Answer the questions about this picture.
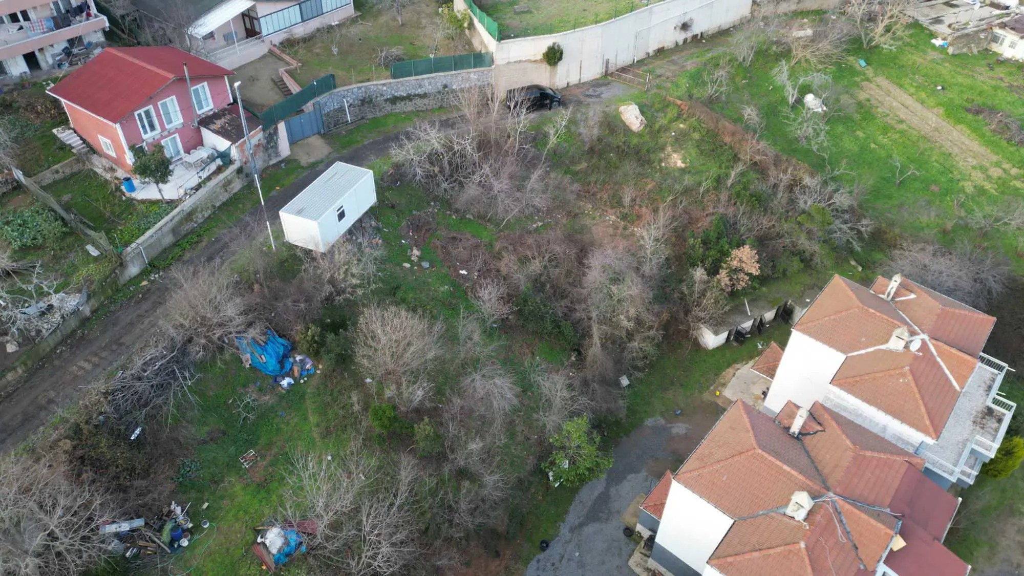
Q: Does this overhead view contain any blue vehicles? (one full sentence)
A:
No, there's no blue vehicle here.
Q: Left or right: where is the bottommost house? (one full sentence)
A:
You can find the bottommost house on the right side of the picture.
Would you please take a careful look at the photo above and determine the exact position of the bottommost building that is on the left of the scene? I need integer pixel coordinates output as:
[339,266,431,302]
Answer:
[280,162,379,266]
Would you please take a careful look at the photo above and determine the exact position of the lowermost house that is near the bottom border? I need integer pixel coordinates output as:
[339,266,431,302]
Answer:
[637,396,971,576]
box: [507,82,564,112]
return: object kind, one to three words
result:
van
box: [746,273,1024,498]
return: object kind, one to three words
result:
house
